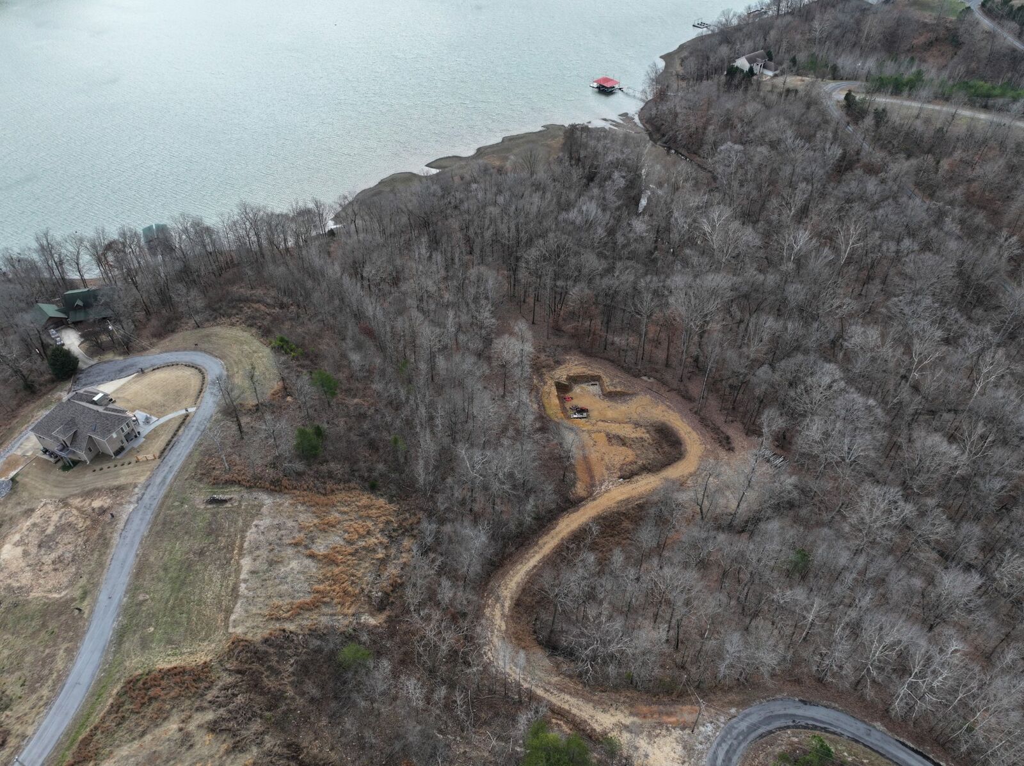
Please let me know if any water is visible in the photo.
Yes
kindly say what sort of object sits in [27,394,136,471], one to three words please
house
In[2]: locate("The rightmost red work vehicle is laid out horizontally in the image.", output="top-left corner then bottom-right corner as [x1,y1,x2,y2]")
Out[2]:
[567,401,593,414]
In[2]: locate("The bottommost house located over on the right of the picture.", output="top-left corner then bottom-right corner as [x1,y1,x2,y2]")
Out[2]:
[730,49,784,75]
